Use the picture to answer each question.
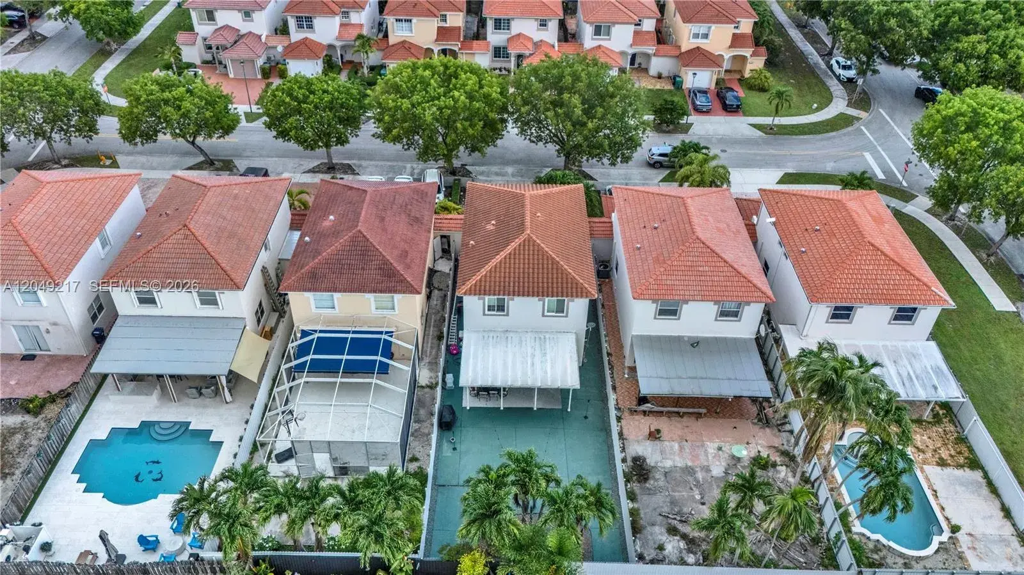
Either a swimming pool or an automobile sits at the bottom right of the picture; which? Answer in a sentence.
Looking at the bottom right of the picture, you will find a swimming pool.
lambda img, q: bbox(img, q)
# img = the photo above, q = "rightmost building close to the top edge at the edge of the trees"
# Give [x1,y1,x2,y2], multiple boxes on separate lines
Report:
[664,0,764,88]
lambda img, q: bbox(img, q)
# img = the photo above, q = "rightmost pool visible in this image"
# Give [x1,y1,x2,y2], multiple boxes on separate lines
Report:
[824,422,959,566]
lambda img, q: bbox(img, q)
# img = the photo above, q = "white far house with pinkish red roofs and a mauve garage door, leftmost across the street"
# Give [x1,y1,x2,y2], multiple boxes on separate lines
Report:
[178,0,289,77]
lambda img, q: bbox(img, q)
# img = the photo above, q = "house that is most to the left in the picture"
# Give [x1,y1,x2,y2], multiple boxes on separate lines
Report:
[0,168,144,353]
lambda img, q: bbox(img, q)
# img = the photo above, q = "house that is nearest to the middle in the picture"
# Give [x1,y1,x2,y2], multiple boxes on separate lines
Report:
[455,179,599,412]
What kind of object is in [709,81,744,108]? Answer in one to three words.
car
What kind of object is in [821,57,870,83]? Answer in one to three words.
car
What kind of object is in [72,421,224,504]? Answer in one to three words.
swimming pool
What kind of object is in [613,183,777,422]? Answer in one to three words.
house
